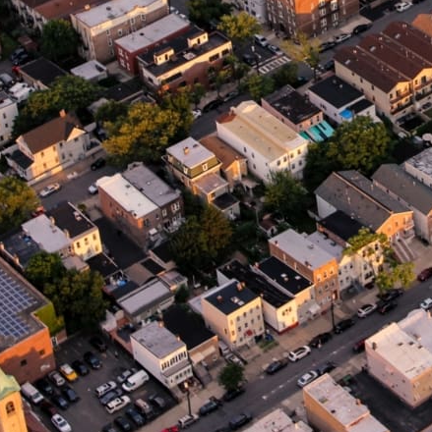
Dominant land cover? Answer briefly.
buildings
